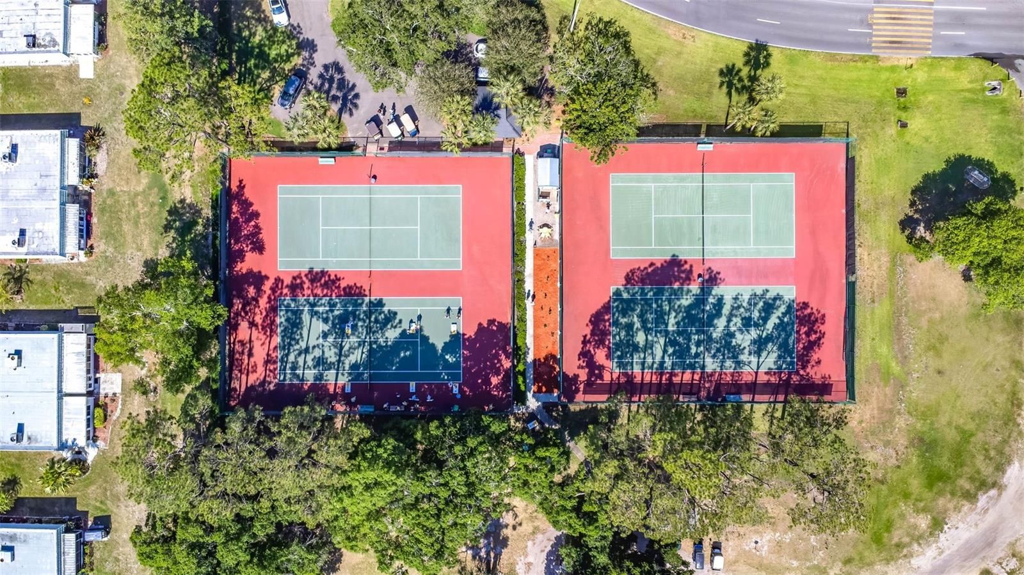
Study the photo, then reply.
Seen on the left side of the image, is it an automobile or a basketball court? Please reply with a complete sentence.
It is an automobile that can be seen on the left side of the image.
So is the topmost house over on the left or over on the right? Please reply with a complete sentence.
The topmost house sits on the left side.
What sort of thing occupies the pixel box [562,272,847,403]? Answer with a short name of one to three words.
tennis court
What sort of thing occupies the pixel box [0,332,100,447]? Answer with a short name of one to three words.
house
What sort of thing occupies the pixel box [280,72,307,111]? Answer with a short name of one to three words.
car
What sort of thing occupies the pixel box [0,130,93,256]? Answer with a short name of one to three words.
house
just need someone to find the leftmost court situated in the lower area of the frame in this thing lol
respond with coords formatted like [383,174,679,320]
[229,283,513,412]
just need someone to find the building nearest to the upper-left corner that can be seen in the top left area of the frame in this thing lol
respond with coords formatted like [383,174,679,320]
[0,0,106,60]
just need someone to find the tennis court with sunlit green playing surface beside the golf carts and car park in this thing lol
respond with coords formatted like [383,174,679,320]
[229,155,513,283]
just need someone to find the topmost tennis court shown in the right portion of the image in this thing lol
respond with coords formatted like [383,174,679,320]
[562,142,847,272]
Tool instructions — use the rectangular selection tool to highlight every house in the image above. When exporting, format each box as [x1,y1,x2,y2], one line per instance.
[0,522,90,575]
[0,332,100,447]
[0,130,93,256]
[0,0,106,60]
